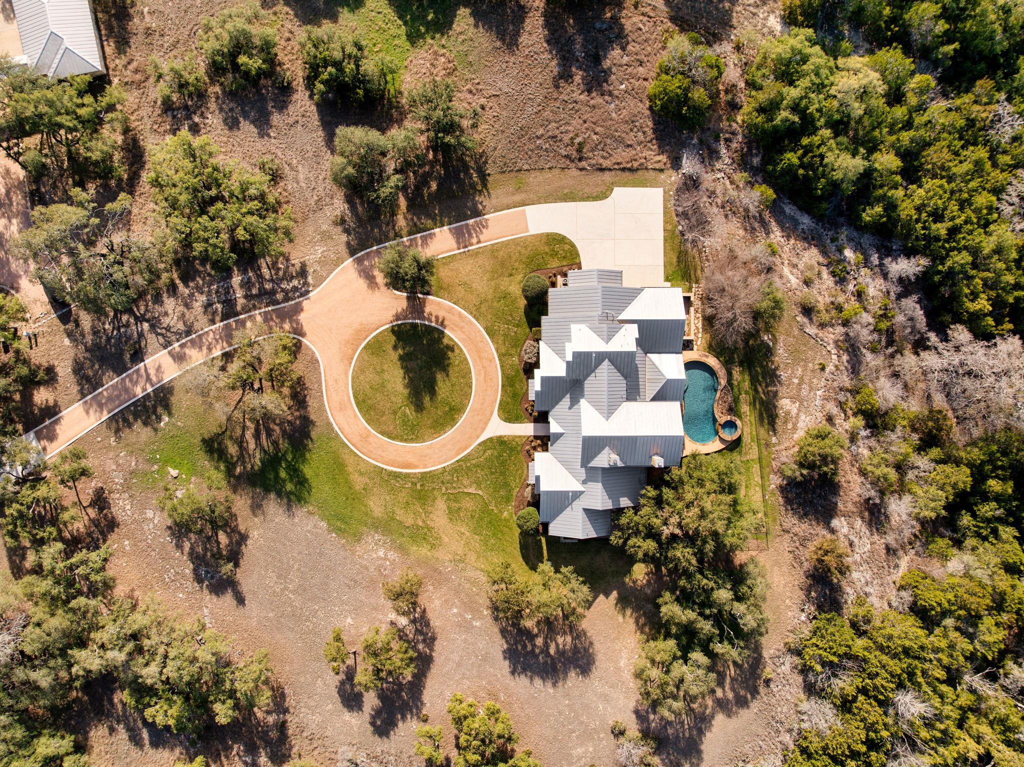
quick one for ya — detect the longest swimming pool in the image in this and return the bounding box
[681,357,722,446]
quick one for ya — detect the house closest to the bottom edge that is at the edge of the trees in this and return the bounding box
[528,268,687,539]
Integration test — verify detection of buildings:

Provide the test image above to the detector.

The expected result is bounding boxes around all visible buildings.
[12,0,109,82]
[528,268,687,539]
